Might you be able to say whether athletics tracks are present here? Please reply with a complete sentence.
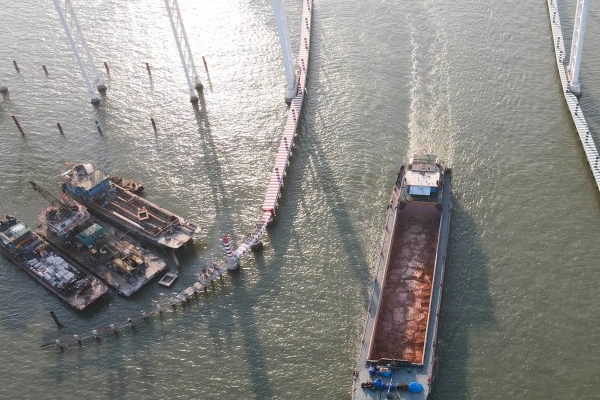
No, I can't see a single athletics track in this photo.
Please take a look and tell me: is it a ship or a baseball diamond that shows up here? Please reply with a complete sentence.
This aerial view contains a ship.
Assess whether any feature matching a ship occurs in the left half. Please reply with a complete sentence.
Yes, there is a ship in the left half.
